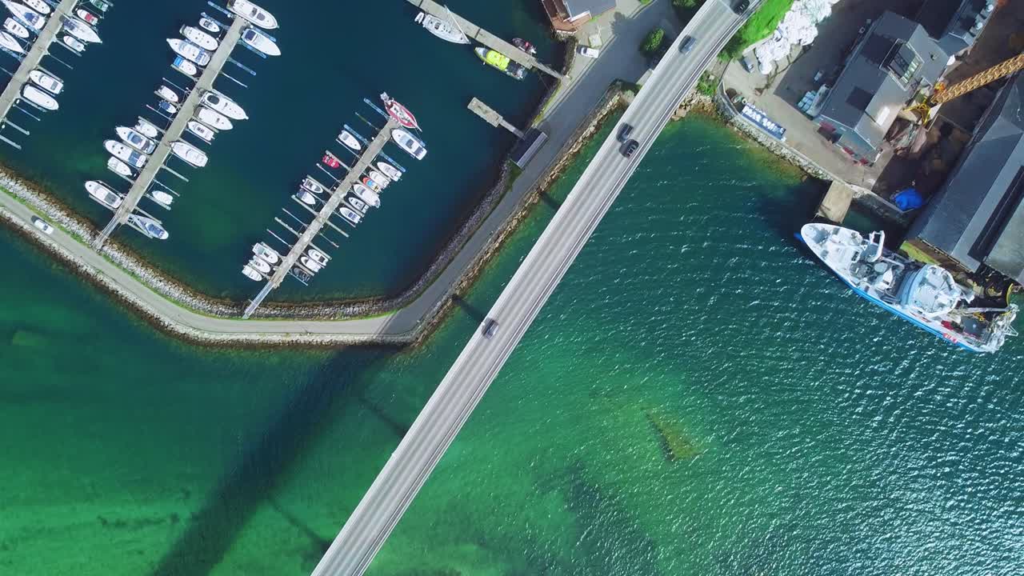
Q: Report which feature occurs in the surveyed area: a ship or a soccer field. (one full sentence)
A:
It is a ship that can be seen here.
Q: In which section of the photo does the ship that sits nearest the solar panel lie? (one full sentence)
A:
The ship that sits nearest the solar panel sits in the right section of the image.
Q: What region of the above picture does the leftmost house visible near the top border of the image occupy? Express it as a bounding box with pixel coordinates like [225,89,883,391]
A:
[543,0,616,33]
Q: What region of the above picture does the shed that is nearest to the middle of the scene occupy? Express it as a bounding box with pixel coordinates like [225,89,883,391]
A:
[503,121,551,171]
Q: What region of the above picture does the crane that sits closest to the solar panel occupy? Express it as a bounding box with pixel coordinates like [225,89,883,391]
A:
[900,50,1024,122]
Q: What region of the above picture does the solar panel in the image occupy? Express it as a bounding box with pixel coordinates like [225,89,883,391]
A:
[845,86,874,110]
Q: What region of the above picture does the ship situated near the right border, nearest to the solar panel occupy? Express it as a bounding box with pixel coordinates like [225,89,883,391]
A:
[794,215,1018,356]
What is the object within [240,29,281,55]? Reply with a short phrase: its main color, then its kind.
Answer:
white boat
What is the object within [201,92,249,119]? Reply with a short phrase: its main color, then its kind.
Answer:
white boat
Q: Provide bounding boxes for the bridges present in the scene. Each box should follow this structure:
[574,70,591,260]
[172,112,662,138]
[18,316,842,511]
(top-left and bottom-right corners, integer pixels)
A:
[311,0,762,576]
